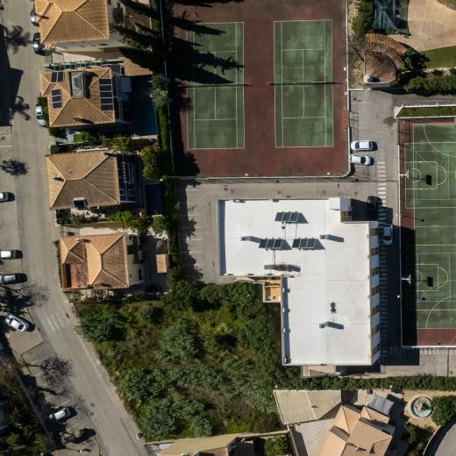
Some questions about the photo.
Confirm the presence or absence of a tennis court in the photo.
Yes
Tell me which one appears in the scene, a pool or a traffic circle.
pool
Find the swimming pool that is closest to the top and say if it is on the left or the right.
left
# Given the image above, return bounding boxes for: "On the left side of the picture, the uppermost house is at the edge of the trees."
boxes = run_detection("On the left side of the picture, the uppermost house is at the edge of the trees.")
[35,0,152,76]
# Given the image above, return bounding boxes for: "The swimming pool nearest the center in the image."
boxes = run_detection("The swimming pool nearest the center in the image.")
[143,182,164,217]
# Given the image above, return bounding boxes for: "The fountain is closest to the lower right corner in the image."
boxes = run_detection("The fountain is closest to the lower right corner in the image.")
[410,395,433,420]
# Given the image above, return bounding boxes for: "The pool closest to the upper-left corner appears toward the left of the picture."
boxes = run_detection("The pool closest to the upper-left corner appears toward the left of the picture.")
[136,98,159,137]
